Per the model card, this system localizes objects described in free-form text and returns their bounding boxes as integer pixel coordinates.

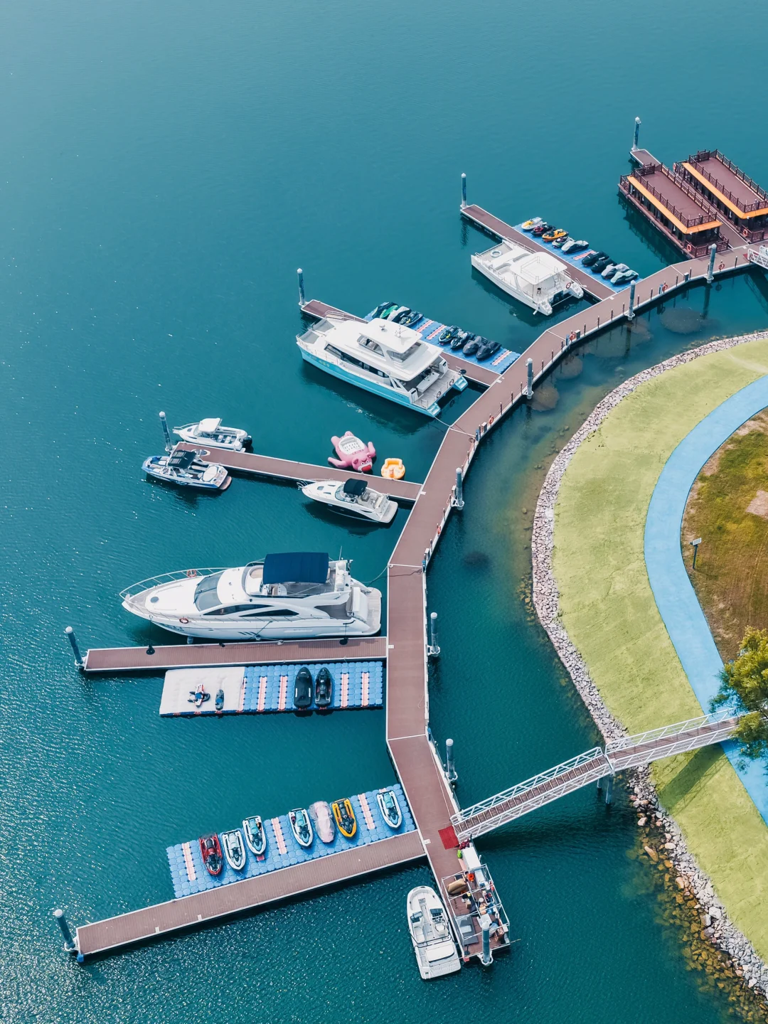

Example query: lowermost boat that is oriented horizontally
[115,553,382,639]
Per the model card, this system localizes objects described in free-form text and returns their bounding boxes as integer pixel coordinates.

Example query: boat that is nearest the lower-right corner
[412,884,461,979]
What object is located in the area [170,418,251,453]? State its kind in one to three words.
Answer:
boat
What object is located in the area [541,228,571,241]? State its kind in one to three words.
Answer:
boat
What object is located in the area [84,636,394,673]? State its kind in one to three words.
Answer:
pier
